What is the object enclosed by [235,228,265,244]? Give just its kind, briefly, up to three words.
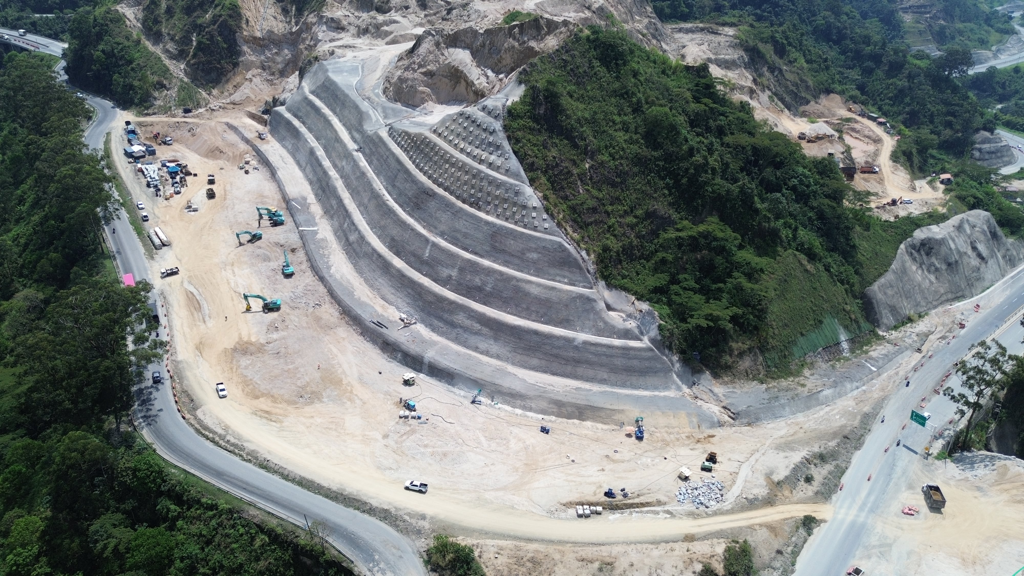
work vehicle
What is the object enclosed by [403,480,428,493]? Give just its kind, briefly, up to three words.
vehicle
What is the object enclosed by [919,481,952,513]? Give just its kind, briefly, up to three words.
truck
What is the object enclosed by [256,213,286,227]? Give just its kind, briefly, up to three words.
work vehicle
